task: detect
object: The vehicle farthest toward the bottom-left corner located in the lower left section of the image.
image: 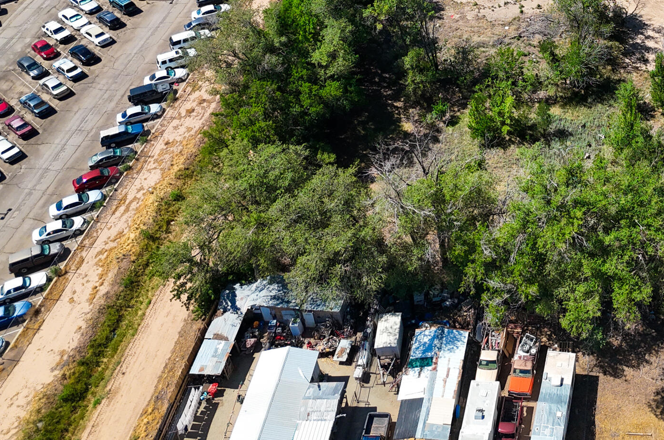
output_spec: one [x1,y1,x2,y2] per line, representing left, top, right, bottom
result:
[0,329,28,356]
